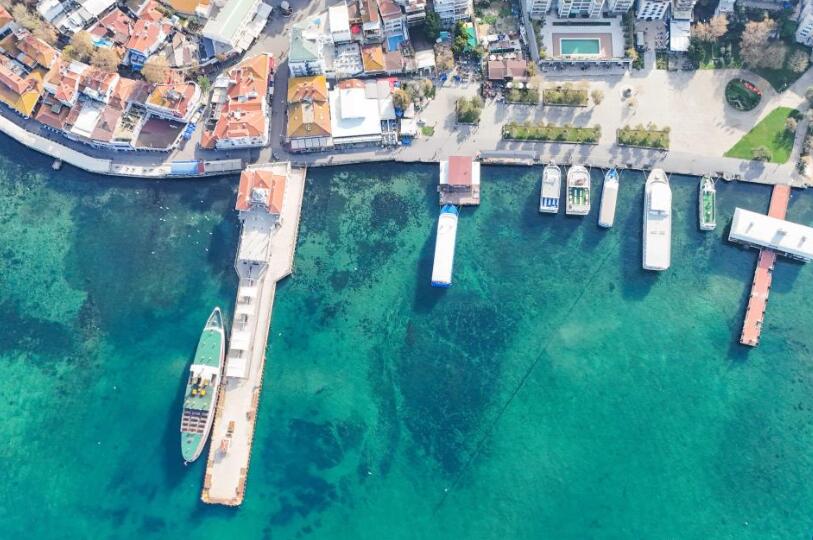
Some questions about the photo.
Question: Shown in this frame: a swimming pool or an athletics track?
swimming pool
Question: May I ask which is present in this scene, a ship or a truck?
ship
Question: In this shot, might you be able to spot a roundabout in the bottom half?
No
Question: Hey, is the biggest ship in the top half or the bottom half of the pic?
bottom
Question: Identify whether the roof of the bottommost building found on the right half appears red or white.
white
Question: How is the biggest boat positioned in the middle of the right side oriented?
vertically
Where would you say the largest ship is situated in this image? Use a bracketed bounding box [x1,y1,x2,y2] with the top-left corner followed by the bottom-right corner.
[175,309,223,469]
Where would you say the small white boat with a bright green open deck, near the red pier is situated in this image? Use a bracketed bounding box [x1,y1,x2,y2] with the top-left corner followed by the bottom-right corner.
[697,178,715,230]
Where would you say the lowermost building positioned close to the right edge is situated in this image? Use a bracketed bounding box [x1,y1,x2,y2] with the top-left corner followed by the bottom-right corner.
[723,208,813,268]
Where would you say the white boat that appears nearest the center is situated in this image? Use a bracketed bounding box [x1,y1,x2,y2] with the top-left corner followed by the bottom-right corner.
[432,205,459,287]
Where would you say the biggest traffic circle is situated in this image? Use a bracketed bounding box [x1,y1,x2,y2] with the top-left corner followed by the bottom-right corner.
[724,78,762,111]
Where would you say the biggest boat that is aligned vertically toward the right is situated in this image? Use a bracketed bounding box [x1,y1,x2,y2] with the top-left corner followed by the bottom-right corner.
[639,170,671,270]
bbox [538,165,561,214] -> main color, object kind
white boat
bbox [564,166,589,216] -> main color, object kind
white boat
